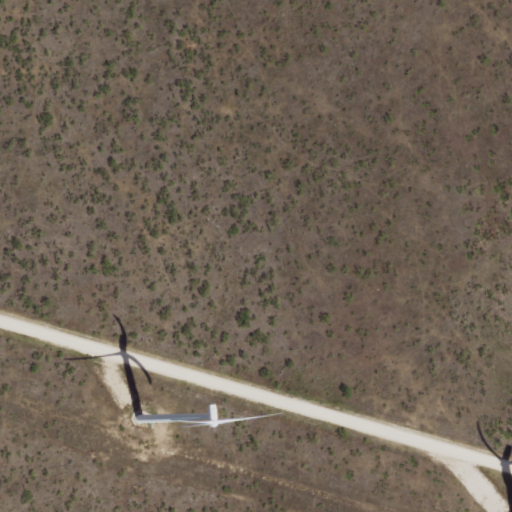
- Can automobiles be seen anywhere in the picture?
No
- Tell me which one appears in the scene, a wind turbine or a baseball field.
wind turbine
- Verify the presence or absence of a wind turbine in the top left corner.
No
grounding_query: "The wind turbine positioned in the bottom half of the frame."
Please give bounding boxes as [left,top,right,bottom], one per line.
[131,403,264,428]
